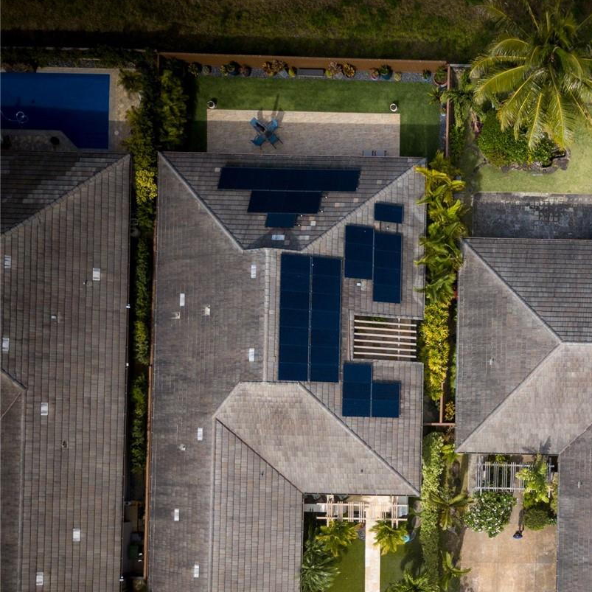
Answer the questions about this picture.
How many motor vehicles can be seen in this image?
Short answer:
0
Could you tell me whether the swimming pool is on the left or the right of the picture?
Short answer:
left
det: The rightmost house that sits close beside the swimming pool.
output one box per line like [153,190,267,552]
[149,152,430,592]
